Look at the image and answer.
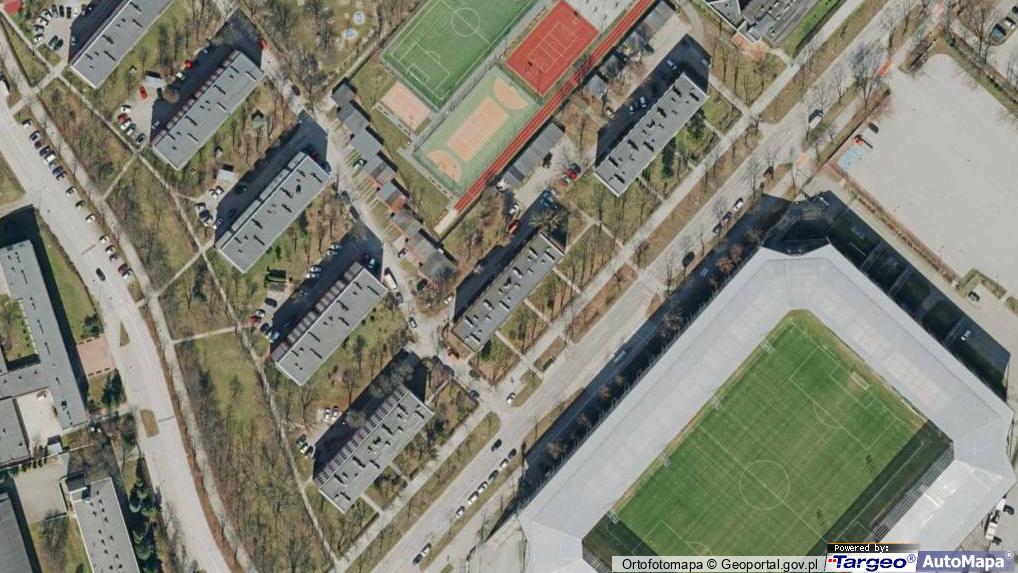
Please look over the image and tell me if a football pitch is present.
Yes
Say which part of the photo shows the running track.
top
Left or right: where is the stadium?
right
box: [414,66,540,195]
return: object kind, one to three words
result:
sports court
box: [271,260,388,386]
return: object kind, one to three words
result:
building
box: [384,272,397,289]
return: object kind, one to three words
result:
vehicle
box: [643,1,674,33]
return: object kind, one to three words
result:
building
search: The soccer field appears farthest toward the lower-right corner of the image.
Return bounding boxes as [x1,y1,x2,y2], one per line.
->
[586,309,941,573]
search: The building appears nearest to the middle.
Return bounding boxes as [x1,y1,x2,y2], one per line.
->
[452,230,565,351]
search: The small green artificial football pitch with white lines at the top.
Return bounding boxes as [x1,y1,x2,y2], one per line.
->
[382,0,535,108]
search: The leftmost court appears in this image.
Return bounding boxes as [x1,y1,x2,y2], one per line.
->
[380,81,431,131]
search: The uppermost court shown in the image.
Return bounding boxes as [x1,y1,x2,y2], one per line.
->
[506,0,600,96]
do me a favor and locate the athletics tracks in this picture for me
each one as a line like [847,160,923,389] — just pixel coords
[453,0,651,216]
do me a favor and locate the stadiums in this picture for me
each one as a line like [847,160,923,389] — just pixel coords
[512,235,1018,573]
